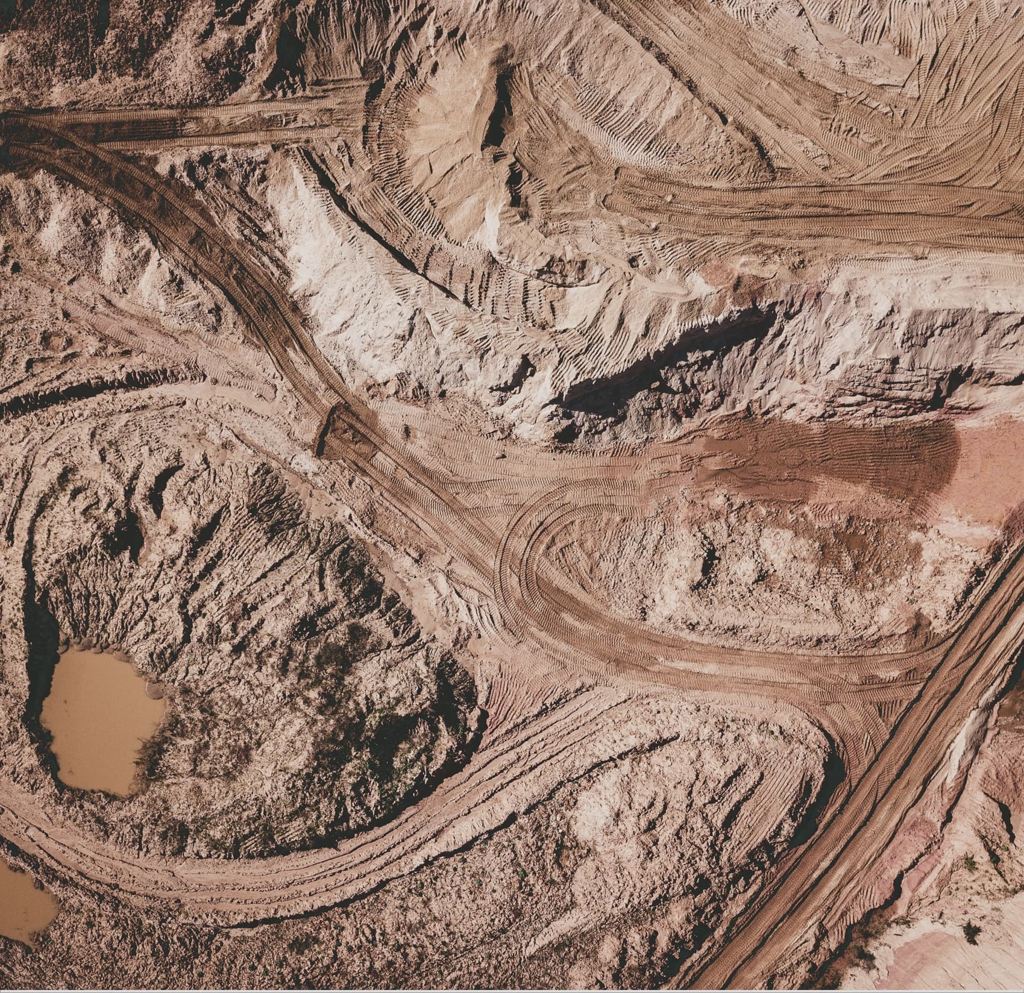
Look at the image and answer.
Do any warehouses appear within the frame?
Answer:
No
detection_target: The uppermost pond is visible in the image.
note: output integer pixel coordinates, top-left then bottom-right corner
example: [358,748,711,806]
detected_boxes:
[39,638,170,807]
